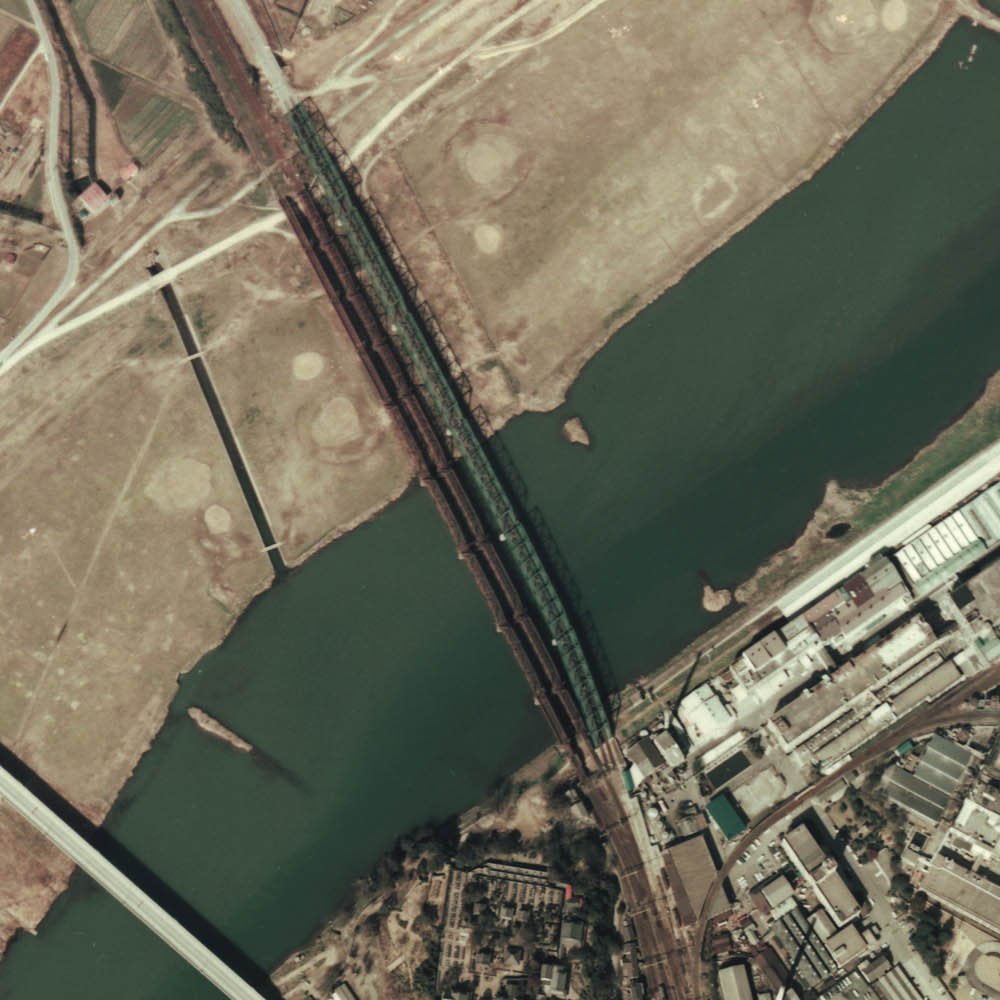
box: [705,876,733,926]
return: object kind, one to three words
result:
building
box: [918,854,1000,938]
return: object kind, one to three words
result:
building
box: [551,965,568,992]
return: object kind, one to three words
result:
house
